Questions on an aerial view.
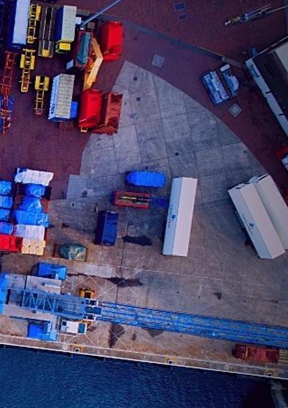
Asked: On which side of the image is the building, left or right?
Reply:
right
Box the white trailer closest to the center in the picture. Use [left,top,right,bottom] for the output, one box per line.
[162,177,197,258]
